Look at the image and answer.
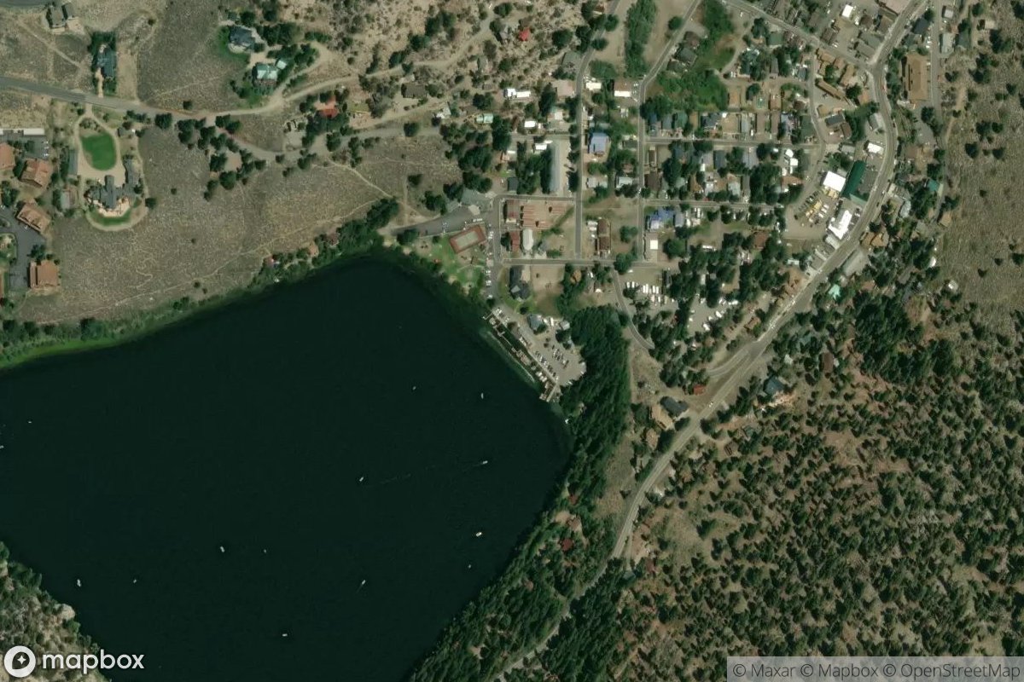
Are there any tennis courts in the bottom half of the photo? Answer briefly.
No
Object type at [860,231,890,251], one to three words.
building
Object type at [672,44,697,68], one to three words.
house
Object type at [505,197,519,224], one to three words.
house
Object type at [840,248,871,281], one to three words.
building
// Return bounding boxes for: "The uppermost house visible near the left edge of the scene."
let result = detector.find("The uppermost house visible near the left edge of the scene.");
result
[47,3,76,27]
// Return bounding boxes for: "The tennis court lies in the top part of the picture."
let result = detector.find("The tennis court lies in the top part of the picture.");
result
[450,224,486,253]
